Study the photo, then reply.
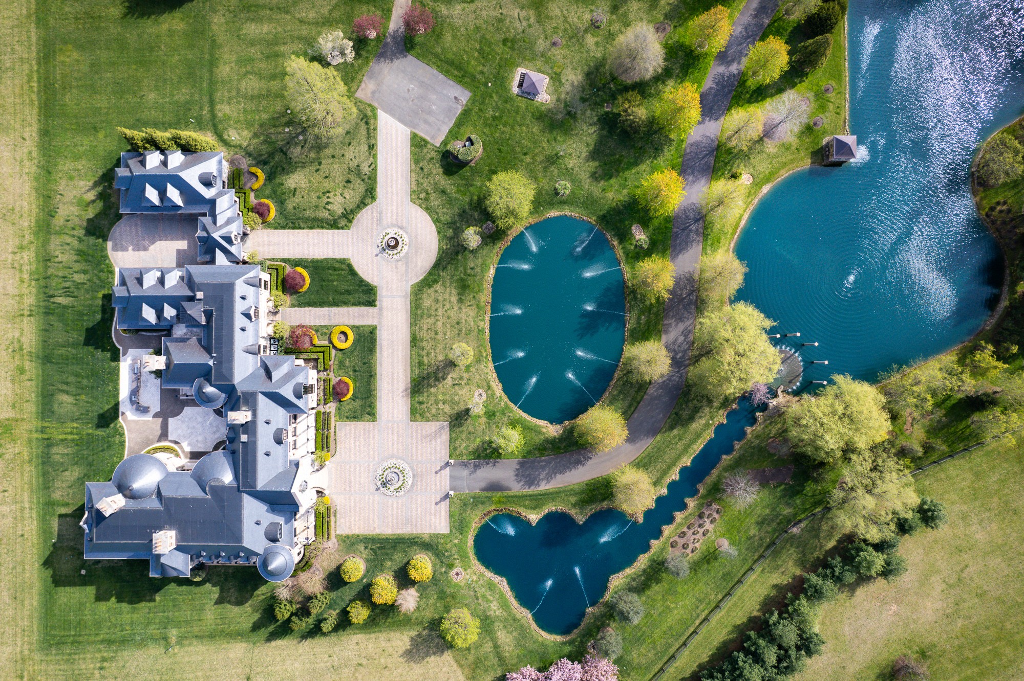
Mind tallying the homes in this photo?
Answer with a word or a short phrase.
2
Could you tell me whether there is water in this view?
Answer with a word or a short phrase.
Yes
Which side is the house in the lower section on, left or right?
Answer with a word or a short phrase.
left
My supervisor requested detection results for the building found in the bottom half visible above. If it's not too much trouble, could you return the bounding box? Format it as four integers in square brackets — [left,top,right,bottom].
[76,264,329,583]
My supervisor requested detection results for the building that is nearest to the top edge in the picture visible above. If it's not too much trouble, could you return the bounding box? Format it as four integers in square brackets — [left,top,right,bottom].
[512,69,547,97]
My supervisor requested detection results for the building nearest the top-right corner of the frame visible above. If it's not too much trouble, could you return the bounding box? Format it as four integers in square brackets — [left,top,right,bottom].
[819,135,856,167]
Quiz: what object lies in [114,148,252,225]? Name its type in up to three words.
house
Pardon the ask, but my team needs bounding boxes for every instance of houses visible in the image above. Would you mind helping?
[76,264,329,583]
[114,148,252,225]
